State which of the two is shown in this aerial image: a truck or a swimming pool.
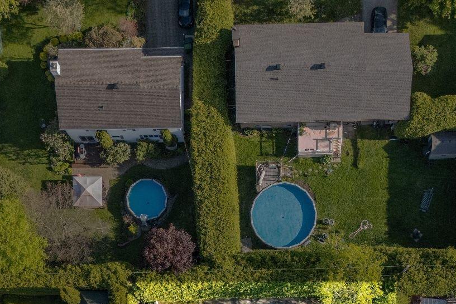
swimming pool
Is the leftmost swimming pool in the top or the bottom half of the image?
bottom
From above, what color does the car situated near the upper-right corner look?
black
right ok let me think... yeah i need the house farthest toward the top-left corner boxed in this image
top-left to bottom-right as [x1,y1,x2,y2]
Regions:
[48,47,184,141]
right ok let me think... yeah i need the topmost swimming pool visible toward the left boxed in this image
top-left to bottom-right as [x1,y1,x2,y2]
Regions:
[126,178,168,226]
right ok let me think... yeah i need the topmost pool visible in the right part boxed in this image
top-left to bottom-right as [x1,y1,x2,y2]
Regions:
[250,183,317,250]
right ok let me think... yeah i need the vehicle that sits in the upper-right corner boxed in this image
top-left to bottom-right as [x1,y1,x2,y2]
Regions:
[367,0,392,32]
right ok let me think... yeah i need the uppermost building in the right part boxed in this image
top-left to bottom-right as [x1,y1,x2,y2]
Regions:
[230,21,412,130]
